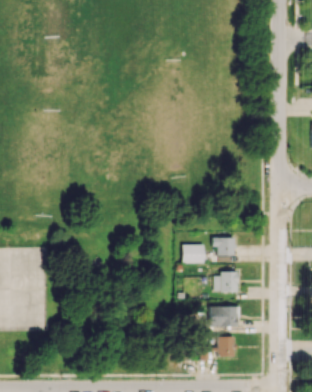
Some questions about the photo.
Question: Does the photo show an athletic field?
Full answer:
Yes, an athletic field is visible in the scene.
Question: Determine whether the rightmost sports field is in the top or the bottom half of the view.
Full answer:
It is in the top half that the rightmost sports field appears.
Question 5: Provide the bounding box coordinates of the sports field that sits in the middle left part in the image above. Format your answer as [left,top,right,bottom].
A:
[12,110,73,217]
